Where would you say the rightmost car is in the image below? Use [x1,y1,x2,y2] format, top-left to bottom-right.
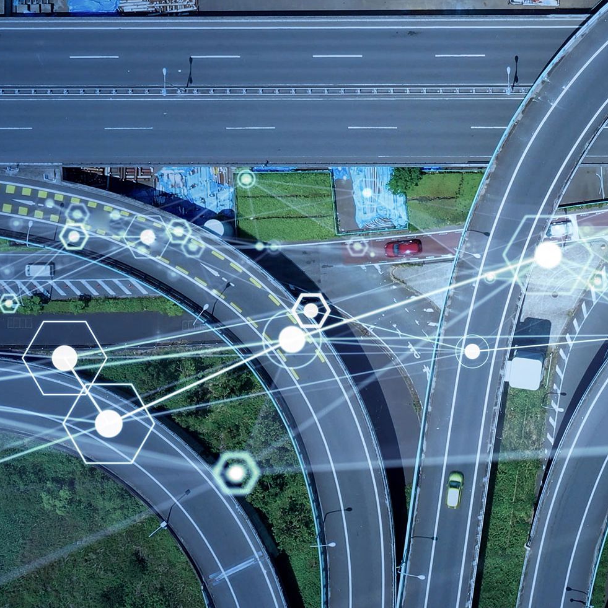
[543,221,575,237]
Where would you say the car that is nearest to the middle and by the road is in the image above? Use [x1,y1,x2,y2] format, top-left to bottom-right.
[385,239,423,257]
